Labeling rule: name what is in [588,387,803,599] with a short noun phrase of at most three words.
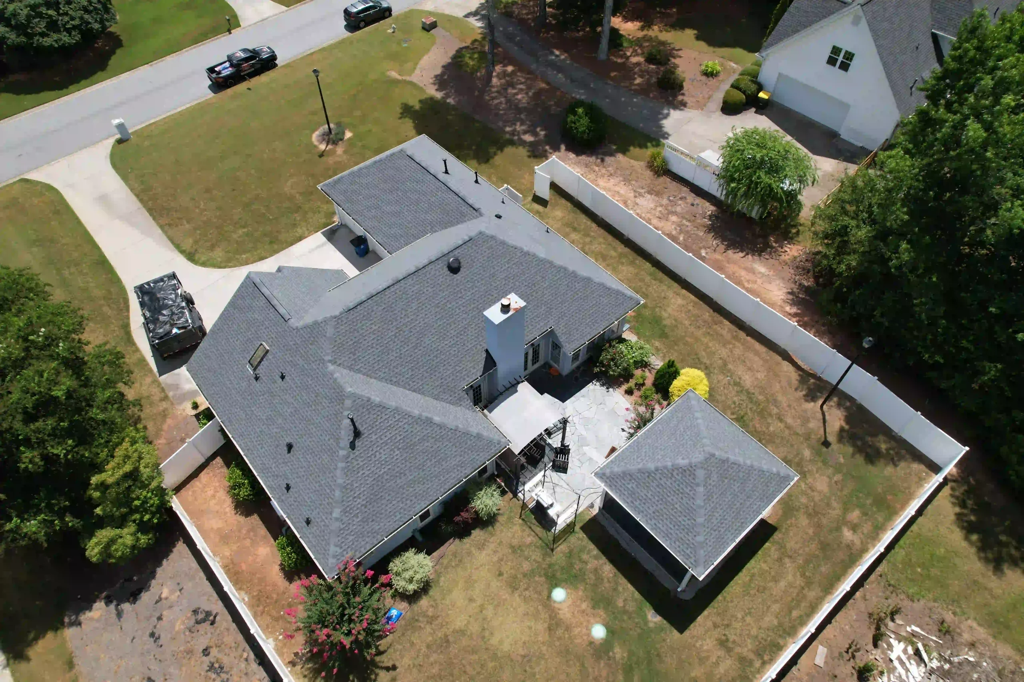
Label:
building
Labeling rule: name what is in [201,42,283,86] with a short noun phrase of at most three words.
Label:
truck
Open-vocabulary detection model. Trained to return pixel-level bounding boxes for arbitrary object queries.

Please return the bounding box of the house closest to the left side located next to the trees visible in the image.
[183,133,646,583]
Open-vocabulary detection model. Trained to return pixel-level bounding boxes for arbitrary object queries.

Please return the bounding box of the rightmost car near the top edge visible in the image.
[339,0,394,28]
